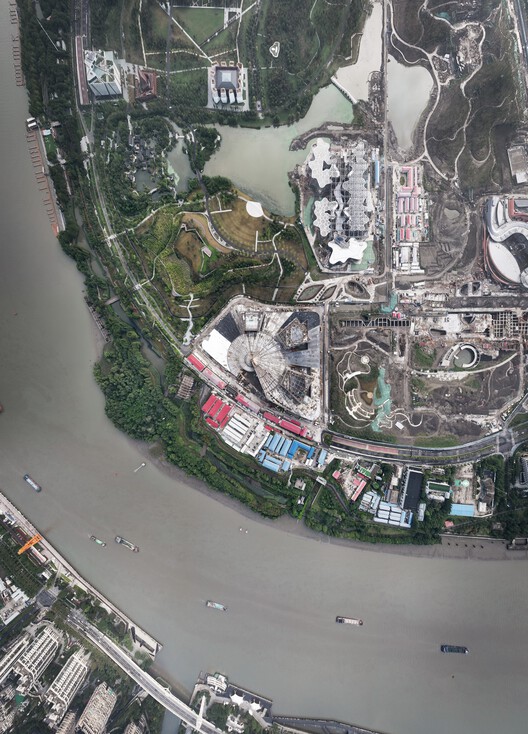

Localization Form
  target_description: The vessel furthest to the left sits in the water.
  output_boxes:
[23,473,41,492]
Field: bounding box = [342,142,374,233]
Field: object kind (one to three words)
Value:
greenhouse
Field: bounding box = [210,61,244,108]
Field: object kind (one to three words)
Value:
building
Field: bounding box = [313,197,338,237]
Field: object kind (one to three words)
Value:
greenhouse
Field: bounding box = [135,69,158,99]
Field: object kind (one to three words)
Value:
building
